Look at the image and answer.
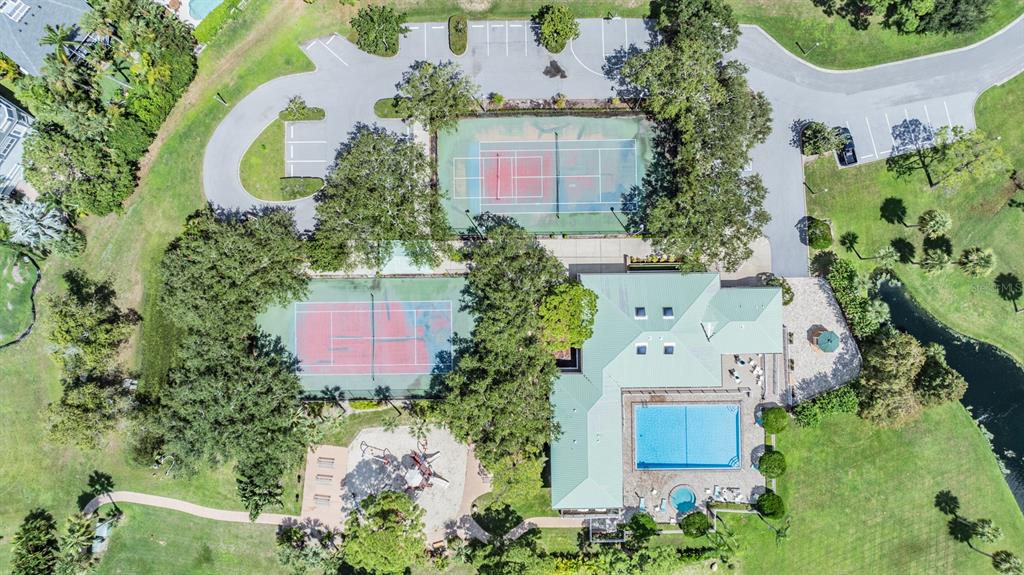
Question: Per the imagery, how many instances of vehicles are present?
1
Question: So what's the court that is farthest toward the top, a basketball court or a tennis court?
basketball court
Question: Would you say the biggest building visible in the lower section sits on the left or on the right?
right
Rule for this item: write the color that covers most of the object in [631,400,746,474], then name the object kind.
blue swimming pool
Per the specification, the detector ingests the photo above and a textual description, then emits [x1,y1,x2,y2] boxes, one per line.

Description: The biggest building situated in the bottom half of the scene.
[552,273,782,519]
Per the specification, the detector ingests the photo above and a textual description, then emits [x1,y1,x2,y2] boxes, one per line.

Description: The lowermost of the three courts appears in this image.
[257,277,473,400]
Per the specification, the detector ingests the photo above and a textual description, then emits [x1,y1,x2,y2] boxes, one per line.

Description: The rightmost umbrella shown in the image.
[817,330,839,352]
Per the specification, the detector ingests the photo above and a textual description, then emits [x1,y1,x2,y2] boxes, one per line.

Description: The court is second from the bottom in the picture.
[437,115,655,234]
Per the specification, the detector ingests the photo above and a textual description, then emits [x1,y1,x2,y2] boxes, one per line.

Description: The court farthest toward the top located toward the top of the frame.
[572,19,652,78]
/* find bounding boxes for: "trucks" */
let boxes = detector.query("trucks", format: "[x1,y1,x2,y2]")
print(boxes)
[839,127,862,165]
